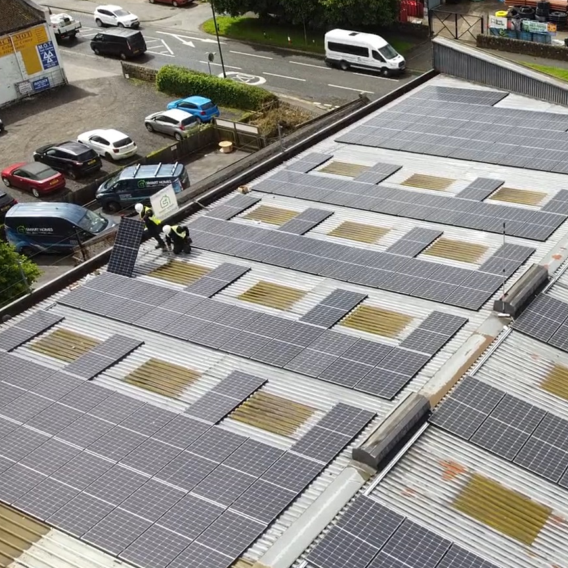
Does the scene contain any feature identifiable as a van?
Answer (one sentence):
Yes, the image includes a van.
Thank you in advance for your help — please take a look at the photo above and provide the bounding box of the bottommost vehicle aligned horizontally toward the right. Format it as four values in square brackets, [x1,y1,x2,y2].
[324,30,405,75]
